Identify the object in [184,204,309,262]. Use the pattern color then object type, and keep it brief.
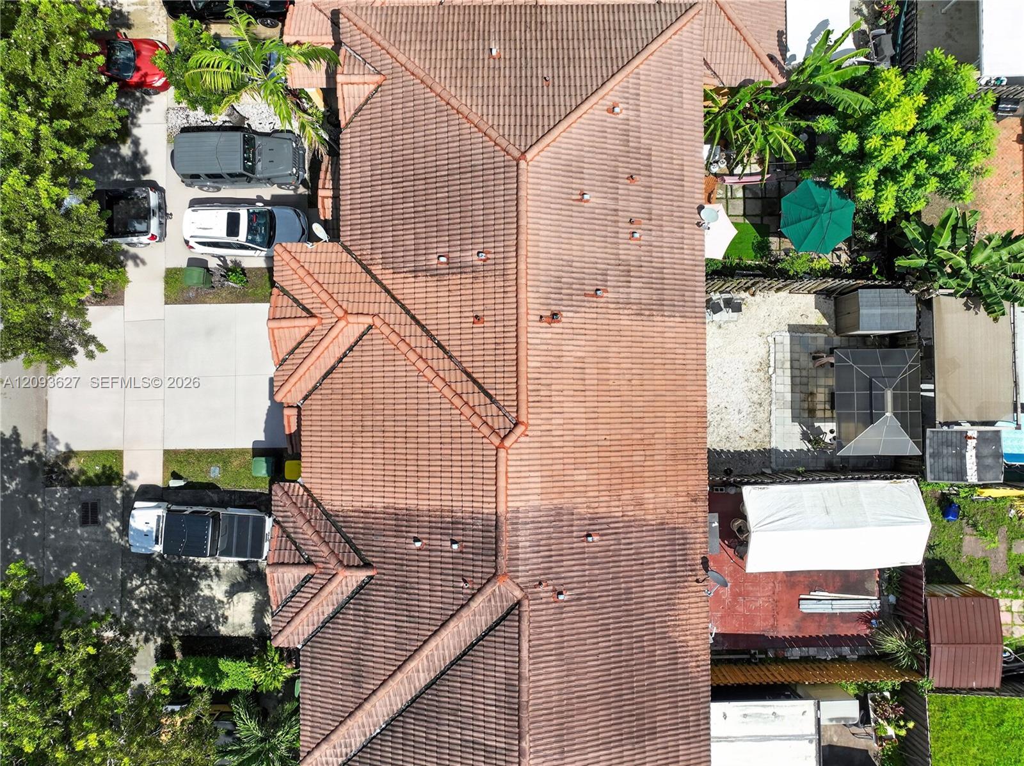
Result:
white car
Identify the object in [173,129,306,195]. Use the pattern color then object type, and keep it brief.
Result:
gray car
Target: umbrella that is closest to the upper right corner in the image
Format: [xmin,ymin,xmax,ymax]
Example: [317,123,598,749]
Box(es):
[778,181,853,255]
